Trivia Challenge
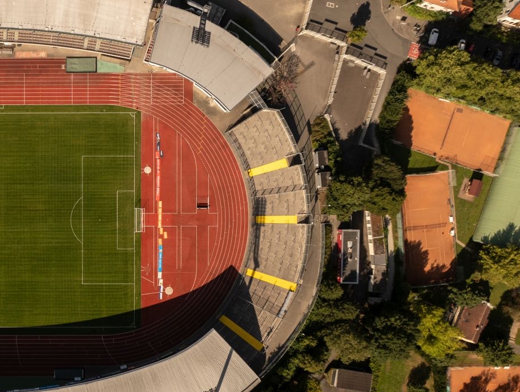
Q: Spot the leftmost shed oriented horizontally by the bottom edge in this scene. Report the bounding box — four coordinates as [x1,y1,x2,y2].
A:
[328,366,372,392]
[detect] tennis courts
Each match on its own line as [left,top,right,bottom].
[448,366,520,392]
[403,171,456,286]
[398,89,510,169]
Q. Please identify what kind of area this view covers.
sports ground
